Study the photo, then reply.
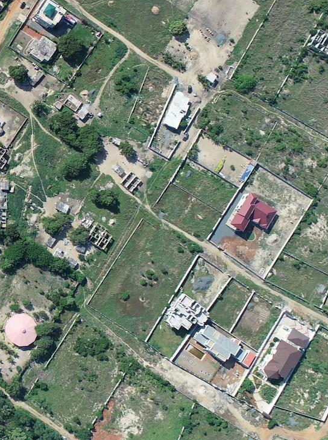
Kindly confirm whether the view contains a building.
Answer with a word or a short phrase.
Yes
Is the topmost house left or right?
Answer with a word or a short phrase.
left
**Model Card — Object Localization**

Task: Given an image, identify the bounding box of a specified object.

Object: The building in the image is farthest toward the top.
[33,0,64,28]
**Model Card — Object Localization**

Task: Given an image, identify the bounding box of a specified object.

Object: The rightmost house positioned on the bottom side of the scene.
[257,327,311,381]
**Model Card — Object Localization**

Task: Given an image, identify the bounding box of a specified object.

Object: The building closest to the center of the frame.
[118,170,144,193]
